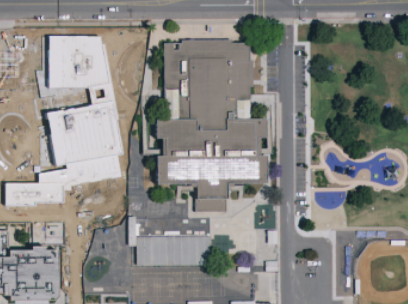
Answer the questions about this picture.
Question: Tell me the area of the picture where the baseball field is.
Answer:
bottom right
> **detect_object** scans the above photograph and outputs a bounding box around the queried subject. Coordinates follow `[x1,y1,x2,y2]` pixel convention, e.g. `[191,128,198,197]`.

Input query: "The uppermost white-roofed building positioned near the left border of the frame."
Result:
[5,35,124,206]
